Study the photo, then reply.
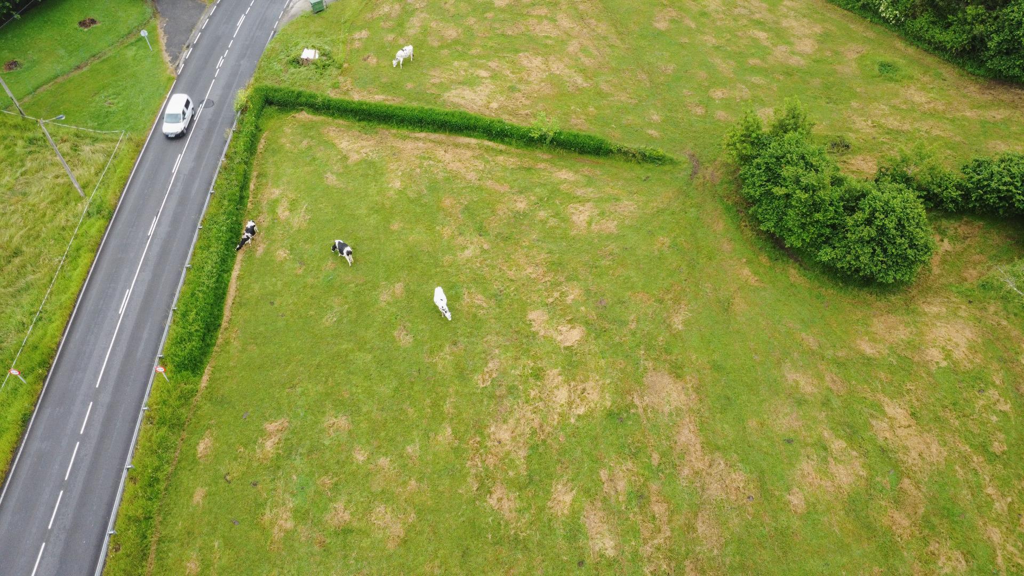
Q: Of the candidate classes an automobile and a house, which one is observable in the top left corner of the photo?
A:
automobile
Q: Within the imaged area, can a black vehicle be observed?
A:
No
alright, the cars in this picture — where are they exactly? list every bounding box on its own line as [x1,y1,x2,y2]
[158,92,194,138]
